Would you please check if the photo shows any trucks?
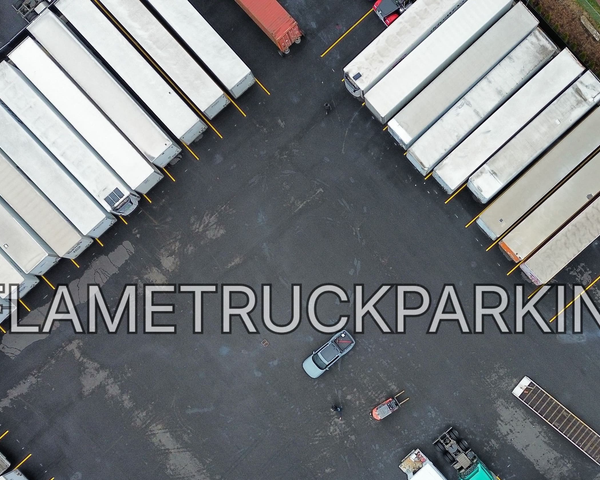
Yes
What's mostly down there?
paved ground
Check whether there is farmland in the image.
No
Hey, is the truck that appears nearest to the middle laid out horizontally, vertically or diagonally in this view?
diagonally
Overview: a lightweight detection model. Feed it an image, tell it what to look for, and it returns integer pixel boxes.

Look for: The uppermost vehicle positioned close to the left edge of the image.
[10,0,48,24]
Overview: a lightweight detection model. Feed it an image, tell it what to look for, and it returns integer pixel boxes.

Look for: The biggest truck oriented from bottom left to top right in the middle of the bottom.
[304,329,355,379]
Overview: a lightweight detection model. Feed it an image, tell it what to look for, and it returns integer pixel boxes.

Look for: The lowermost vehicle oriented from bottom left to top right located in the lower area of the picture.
[374,392,409,420]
